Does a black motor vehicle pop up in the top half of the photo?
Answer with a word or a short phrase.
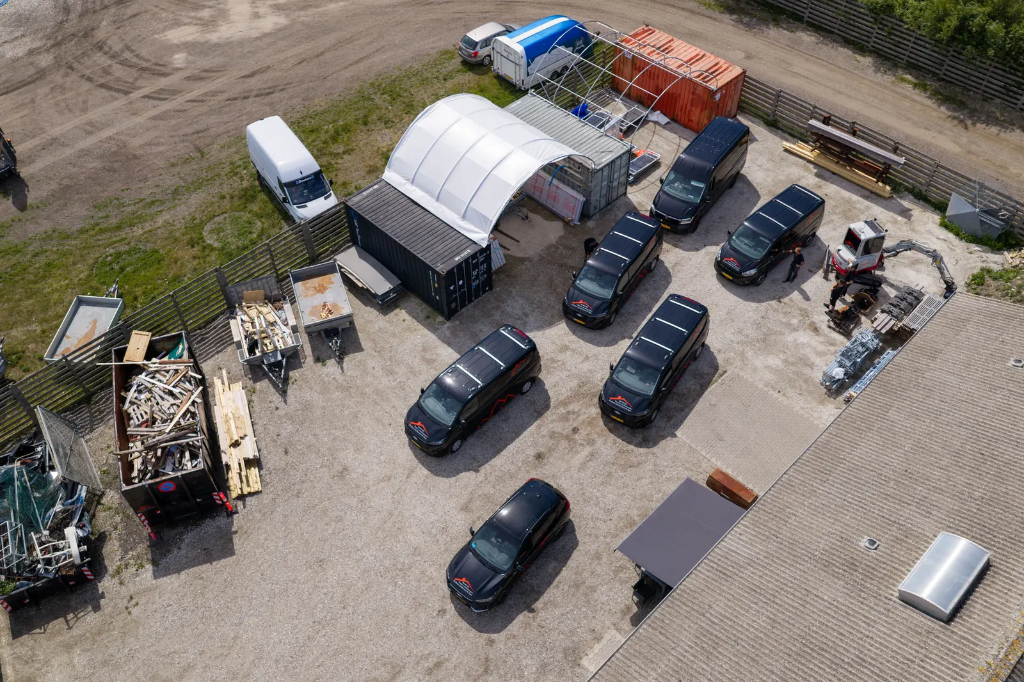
Yes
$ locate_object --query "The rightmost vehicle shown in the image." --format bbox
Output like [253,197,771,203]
[823,216,948,296]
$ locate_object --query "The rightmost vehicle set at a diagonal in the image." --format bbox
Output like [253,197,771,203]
[717,186,827,286]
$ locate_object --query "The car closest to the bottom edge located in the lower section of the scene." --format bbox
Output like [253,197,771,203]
[450,480,572,608]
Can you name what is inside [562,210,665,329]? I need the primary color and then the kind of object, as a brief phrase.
black van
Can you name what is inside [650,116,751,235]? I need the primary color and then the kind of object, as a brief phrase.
black van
